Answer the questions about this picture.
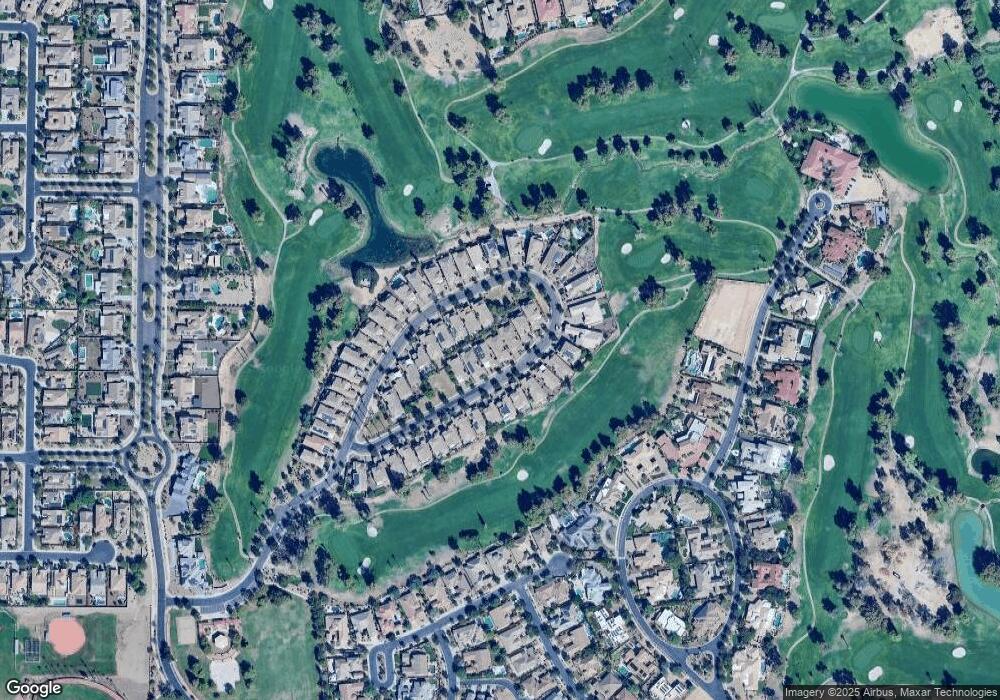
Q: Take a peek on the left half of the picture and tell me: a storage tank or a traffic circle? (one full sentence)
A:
The feature located on the left half of the picture is a traffic circle.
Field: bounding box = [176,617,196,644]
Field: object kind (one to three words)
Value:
sports court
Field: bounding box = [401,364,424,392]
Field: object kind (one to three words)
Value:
house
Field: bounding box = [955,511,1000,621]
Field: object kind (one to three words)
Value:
pond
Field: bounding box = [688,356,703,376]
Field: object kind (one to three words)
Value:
swimming pool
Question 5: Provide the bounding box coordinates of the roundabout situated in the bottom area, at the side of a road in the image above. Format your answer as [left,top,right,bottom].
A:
[122,432,174,485]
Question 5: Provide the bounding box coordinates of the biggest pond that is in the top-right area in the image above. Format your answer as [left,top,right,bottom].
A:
[796,83,951,192]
